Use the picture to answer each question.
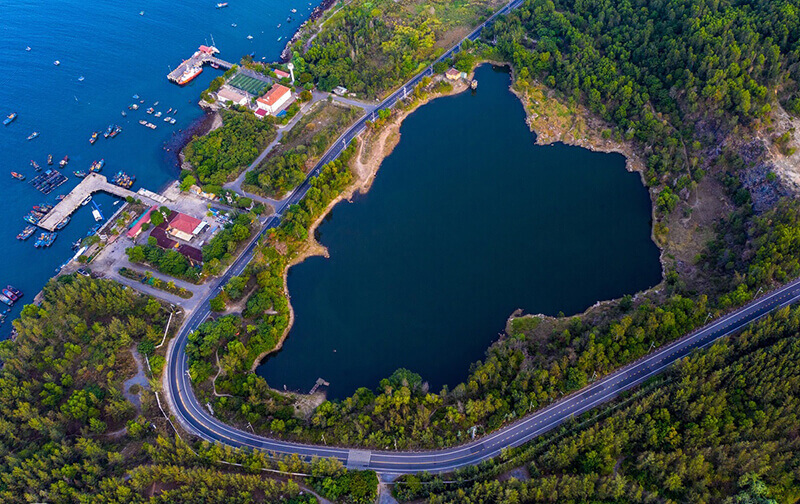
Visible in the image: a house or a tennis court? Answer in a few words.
house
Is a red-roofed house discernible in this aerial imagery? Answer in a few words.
Yes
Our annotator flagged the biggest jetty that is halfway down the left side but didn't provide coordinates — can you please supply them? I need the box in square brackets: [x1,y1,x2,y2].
[37,170,137,231]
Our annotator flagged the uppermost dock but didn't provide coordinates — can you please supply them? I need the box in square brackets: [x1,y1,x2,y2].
[166,51,234,80]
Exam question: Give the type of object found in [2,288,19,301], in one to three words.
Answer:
boat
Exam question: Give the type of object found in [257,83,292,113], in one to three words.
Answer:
building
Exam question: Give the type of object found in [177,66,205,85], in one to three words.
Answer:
ship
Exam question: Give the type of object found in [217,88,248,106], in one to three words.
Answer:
building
